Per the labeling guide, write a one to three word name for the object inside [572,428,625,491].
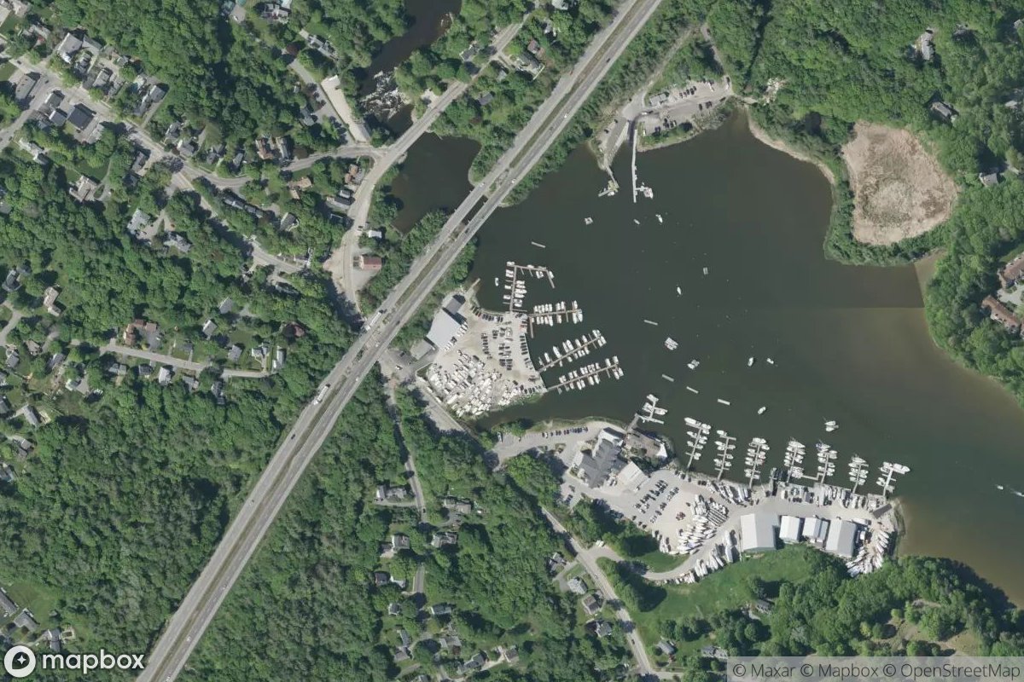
building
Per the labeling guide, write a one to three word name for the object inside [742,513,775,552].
shed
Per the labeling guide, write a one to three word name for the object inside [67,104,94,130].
house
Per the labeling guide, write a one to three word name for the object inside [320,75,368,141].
building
